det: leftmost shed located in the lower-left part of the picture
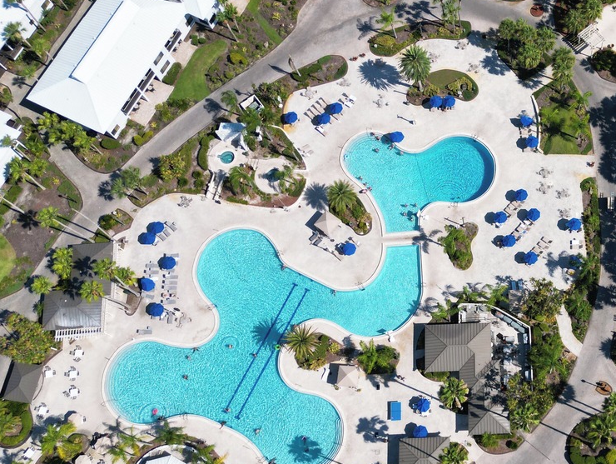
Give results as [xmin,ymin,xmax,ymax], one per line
[3,363,47,404]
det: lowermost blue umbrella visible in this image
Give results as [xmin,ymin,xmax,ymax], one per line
[413,423,429,438]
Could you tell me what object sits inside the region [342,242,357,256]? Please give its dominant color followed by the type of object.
blue umbrella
